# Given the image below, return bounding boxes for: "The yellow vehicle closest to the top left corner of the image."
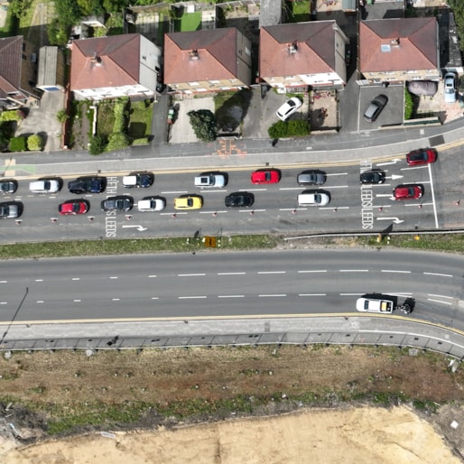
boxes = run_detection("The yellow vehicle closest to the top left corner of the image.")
[174,195,204,211]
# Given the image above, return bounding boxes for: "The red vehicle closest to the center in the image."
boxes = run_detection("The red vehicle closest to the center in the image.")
[251,169,281,184]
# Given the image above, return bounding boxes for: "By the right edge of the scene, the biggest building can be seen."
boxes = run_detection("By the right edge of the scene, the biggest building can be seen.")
[359,17,441,86]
